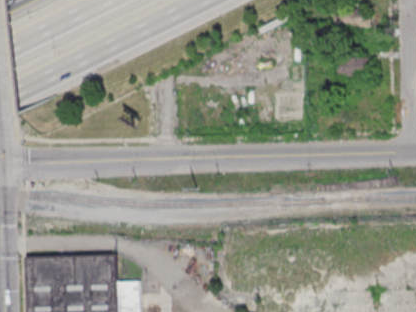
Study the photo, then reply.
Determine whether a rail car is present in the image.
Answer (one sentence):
No, there appears to be no rail car in this shot.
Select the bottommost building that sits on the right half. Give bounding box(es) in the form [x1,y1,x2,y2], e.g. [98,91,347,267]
[338,56,371,77]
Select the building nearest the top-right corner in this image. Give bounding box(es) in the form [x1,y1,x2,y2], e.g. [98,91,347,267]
[342,12,374,30]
